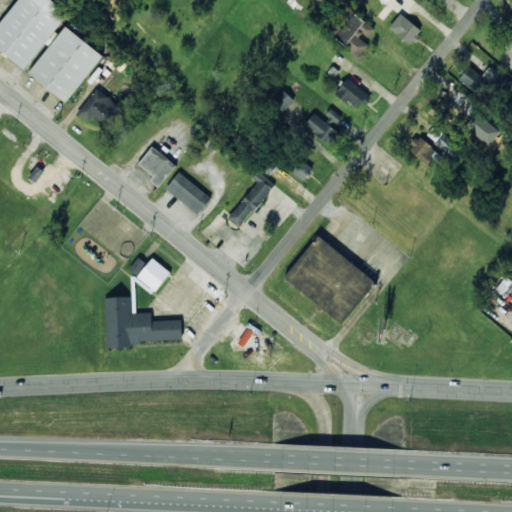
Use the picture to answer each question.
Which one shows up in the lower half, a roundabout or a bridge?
bridge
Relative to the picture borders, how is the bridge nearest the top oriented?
from side to side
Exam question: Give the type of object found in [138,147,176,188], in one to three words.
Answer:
building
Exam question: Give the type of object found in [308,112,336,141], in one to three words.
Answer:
house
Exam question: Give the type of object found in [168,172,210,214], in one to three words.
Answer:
building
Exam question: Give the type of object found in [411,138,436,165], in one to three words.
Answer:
house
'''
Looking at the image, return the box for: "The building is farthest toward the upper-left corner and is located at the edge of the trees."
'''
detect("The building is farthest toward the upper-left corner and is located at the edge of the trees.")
[0,0,62,70]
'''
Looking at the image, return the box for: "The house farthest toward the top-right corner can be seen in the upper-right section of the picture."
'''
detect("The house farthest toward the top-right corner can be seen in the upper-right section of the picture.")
[460,66,485,90]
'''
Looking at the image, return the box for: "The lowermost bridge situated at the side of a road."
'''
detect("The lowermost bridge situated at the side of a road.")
[276,492,404,512]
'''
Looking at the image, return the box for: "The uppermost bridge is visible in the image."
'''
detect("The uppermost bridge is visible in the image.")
[276,444,408,480]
